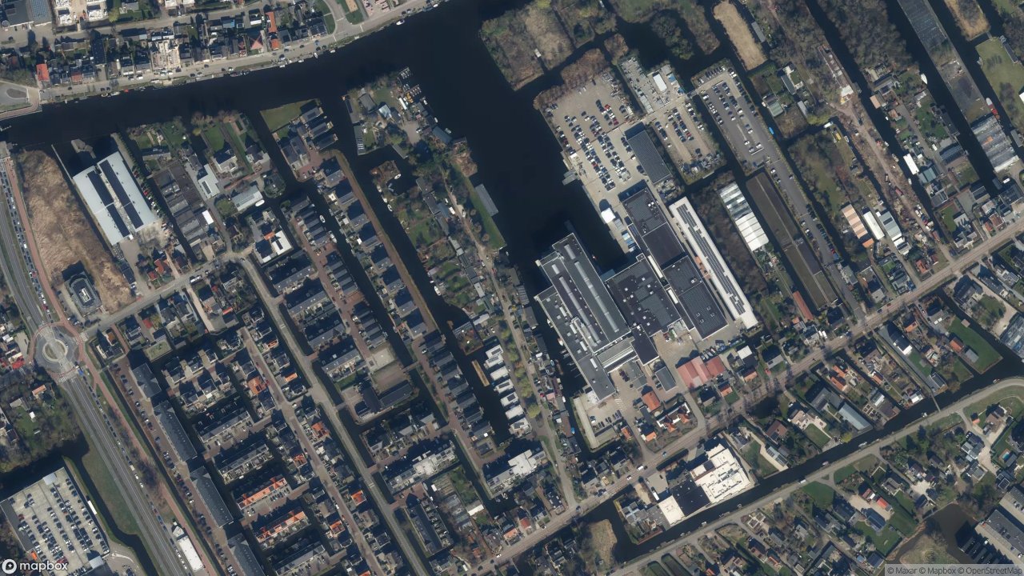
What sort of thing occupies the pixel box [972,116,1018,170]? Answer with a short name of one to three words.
shed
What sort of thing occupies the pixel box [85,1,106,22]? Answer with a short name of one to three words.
house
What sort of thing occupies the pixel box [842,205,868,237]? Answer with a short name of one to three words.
shed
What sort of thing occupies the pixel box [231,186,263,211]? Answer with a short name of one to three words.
building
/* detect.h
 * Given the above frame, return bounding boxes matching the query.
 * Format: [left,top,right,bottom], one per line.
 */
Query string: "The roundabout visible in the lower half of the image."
[32,327,80,378]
